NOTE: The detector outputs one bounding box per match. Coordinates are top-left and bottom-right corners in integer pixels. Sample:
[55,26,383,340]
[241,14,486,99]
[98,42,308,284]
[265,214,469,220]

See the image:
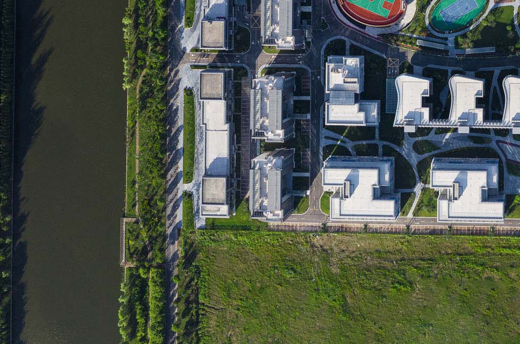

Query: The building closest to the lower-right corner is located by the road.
[431,159,507,225]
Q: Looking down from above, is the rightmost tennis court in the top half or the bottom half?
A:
top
